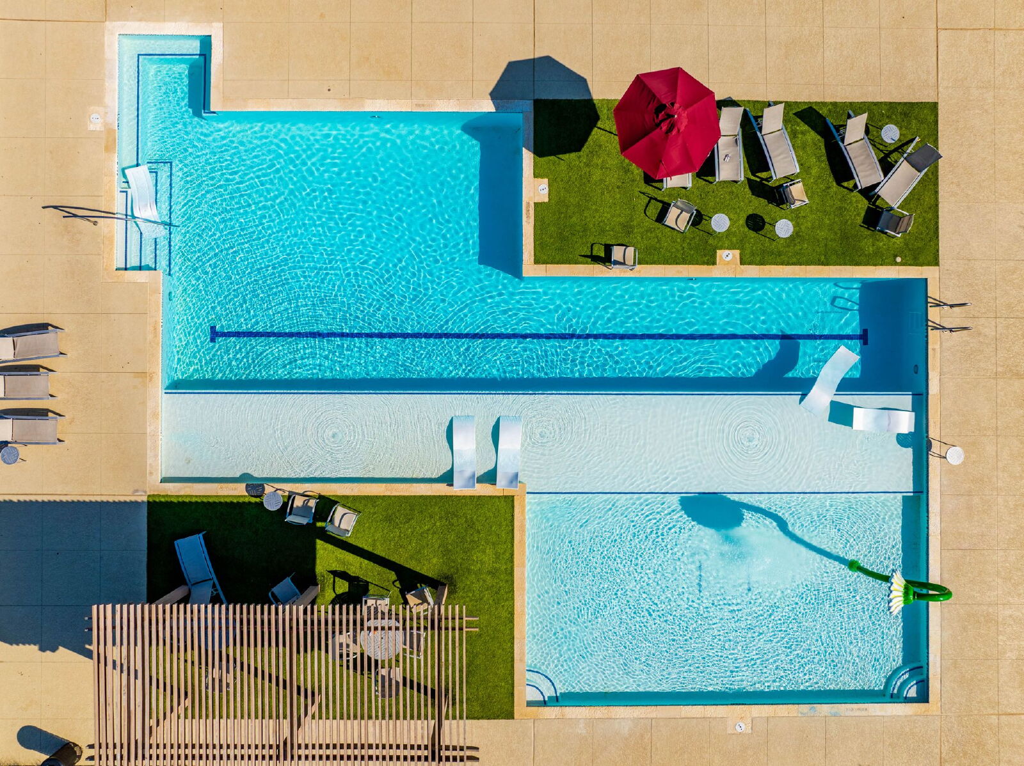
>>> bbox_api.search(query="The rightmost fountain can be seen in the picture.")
[851,562,956,621]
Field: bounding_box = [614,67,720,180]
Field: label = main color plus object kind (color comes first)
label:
red umbrella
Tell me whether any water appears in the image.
Yes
